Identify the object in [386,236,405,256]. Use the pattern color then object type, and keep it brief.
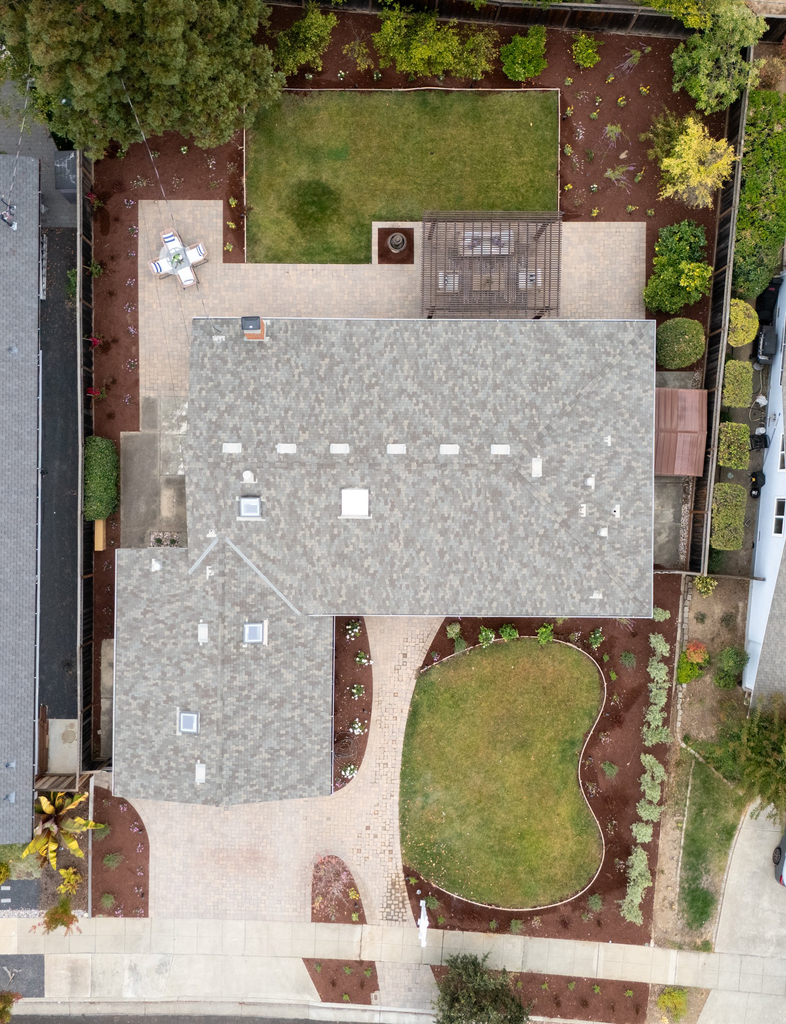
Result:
gray fountain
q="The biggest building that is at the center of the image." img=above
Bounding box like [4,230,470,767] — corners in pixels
[112,317,657,808]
